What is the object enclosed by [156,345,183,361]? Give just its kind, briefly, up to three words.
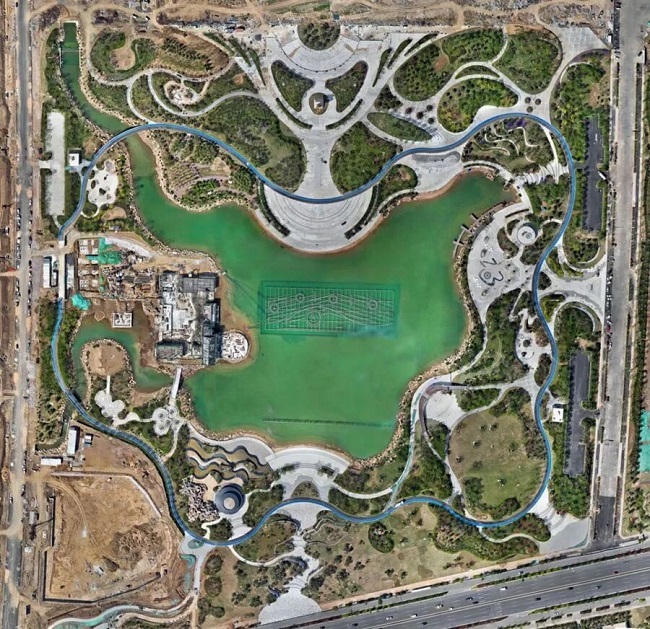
building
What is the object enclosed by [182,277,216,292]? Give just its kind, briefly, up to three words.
building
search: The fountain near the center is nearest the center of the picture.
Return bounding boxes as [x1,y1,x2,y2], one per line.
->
[261,281,400,337]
